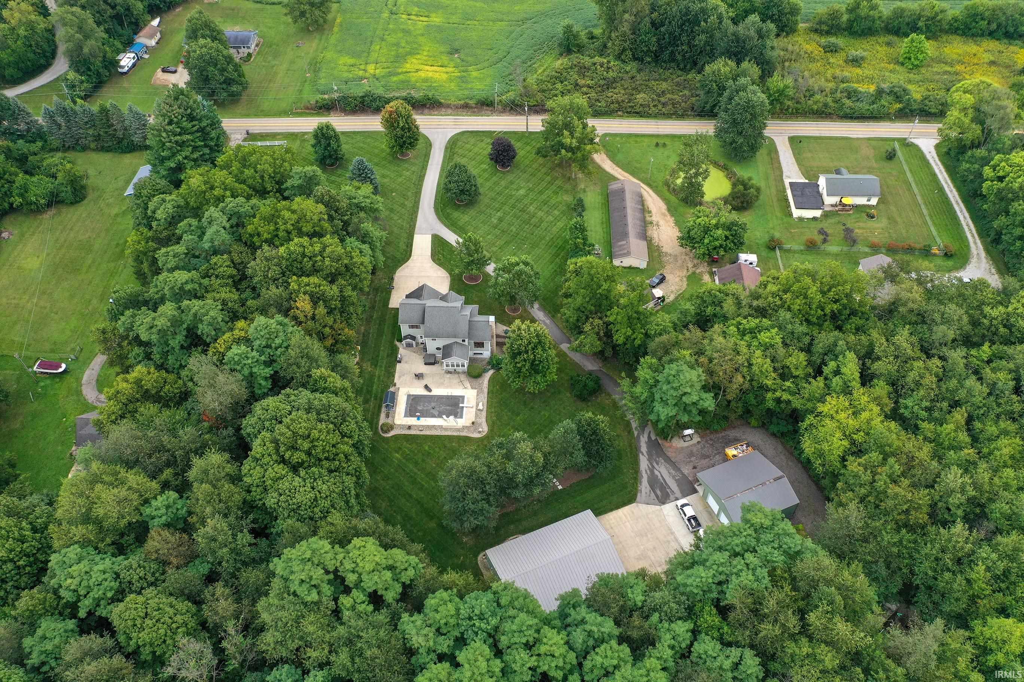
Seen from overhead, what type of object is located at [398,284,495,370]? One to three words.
house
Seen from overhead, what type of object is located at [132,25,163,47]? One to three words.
building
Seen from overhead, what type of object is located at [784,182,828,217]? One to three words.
building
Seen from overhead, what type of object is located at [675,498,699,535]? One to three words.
truck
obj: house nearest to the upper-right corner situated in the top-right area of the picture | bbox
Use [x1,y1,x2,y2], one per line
[812,164,881,204]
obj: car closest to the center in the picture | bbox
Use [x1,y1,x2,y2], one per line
[648,270,668,286]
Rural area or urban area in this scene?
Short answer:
rural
